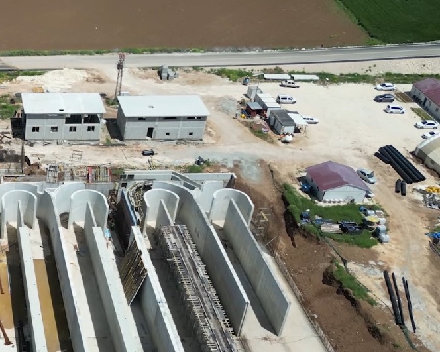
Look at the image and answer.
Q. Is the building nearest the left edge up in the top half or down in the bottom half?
top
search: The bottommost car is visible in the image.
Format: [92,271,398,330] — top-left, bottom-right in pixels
[365,184,383,199]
